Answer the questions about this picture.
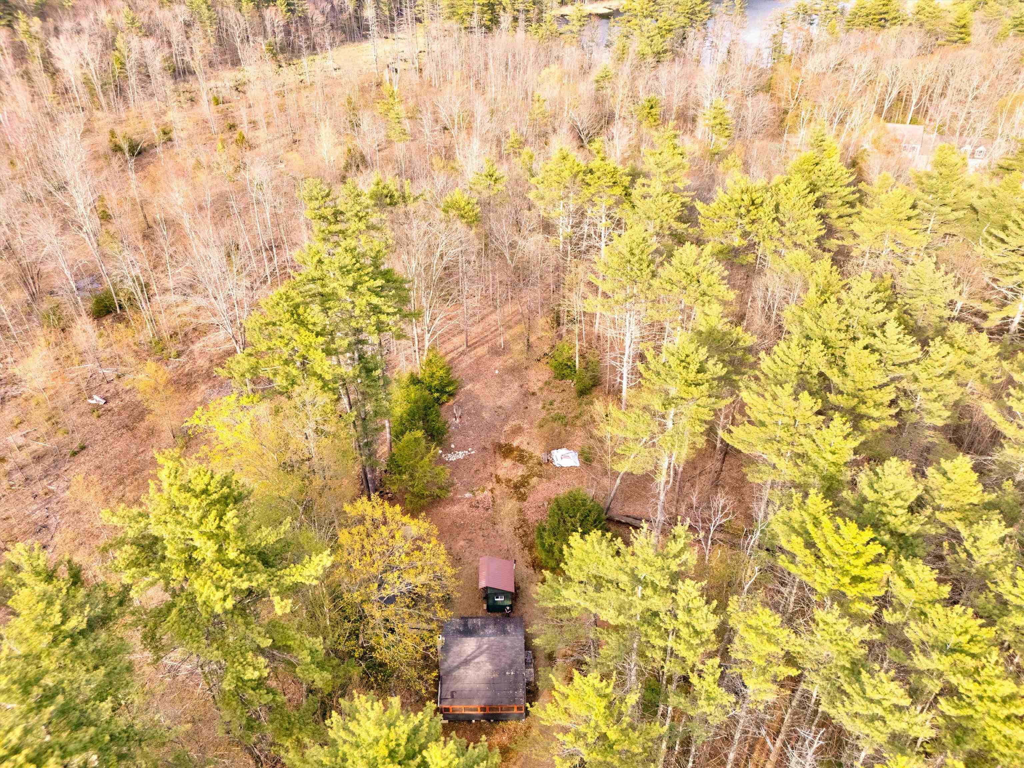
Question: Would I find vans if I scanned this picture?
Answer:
No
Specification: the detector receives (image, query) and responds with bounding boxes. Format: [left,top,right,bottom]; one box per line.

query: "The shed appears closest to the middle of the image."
[478,554,517,613]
